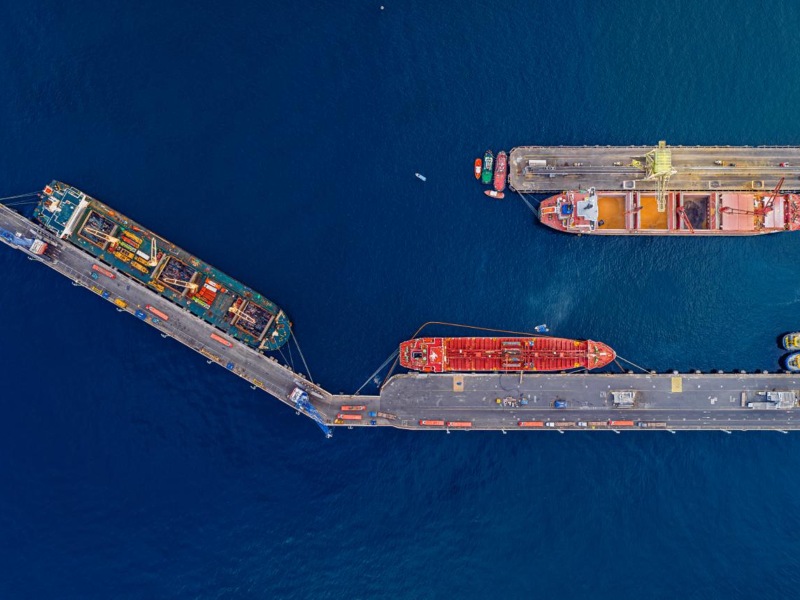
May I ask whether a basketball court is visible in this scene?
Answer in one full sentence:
No, there isn't any basketball court down there.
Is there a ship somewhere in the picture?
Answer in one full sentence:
Yes, there is a ship in the image.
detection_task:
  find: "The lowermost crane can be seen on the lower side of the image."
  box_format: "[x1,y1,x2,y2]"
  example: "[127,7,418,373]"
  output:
[290,384,332,439]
